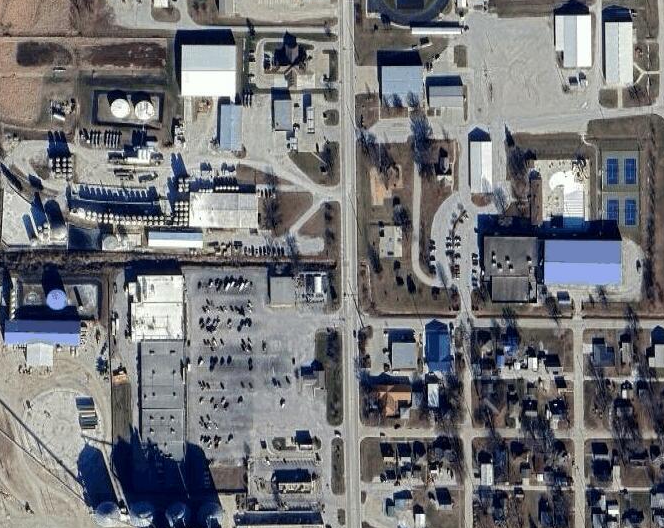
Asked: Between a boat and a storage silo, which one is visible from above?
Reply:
storage silo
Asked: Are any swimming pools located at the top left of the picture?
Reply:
No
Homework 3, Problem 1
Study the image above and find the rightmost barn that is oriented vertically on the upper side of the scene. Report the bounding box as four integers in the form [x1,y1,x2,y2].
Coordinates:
[605,22,633,86]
